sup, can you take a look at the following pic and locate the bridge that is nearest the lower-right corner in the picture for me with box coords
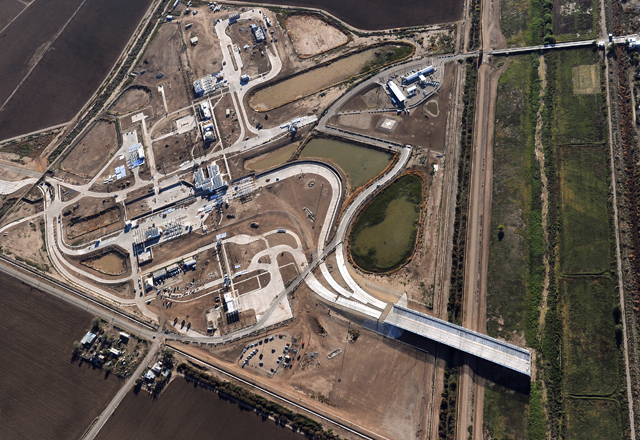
[384,305,531,376]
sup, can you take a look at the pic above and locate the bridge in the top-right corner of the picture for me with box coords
[485,39,596,54]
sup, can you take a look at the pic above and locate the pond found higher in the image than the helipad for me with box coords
[249,42,409,111]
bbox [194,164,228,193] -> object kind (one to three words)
building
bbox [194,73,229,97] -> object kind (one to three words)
building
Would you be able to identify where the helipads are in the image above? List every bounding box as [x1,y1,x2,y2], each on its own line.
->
[376,114,401,132]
